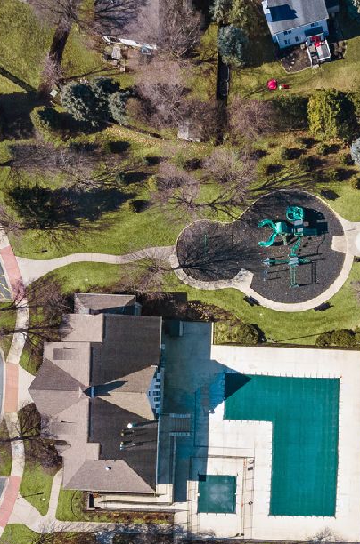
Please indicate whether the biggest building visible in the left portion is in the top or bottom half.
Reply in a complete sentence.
The biggest building visible in the left portion is in the bottom half of the image.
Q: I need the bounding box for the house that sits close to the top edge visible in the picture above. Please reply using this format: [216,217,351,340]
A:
[255,0,346,49]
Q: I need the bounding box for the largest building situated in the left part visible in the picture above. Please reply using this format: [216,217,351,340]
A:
[27,294,170,491]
